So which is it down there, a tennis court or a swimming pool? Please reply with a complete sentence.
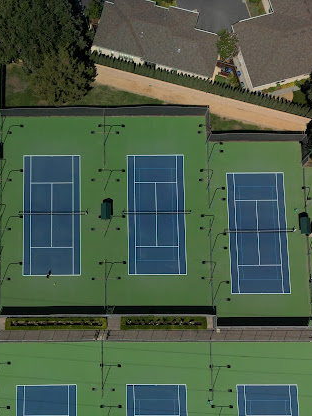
Visible in the photo is a tennis court.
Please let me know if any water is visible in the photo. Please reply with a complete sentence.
No, there is no water in the image.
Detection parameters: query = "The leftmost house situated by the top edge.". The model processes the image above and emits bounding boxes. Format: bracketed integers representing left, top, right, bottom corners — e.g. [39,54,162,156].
[92,0,217,84]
